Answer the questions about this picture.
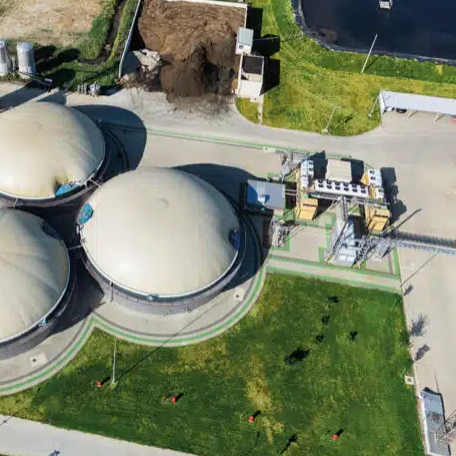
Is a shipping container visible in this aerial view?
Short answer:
Yes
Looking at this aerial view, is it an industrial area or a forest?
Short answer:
industrial area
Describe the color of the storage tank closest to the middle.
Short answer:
white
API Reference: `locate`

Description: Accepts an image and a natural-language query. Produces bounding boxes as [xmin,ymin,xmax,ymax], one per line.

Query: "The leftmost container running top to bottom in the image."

[295,155,321,223]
